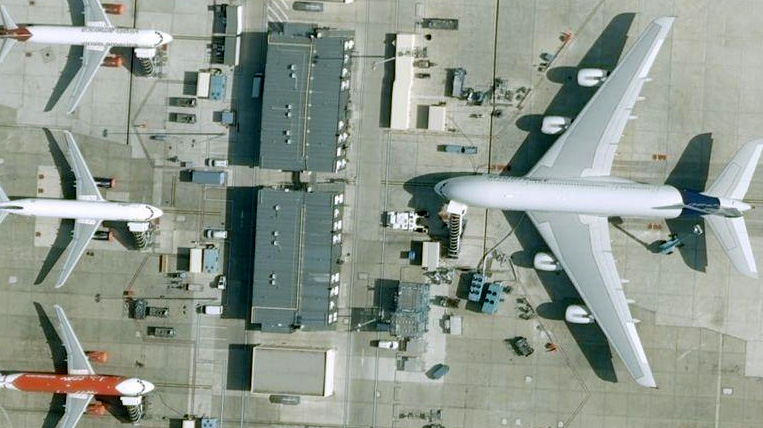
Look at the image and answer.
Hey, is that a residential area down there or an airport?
airport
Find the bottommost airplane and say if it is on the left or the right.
left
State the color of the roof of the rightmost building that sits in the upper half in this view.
white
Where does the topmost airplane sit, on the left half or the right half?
left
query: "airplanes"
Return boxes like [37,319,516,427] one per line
[0,130,162,291]
[0,0,172,117]
[0,304,154,428]
[434,16,763,388]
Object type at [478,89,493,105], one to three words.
work vehicle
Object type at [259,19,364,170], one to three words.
building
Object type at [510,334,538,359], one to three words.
work vehicle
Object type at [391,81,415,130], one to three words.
shed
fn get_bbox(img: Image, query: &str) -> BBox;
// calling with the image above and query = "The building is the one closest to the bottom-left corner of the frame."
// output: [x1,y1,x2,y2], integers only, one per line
[250,344,335,397]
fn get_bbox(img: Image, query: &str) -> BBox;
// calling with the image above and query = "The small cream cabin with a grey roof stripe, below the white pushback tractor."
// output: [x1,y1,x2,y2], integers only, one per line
[421,240,443,268]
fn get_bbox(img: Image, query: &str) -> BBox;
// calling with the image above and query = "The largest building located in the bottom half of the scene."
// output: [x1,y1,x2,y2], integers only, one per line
[251,186,355,333]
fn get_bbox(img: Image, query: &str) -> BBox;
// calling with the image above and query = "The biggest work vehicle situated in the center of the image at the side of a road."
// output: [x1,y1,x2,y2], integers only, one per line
[390,210,431,233]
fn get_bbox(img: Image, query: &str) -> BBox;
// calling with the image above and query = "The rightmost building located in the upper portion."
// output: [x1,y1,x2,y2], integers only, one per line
[428,105,449,131]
